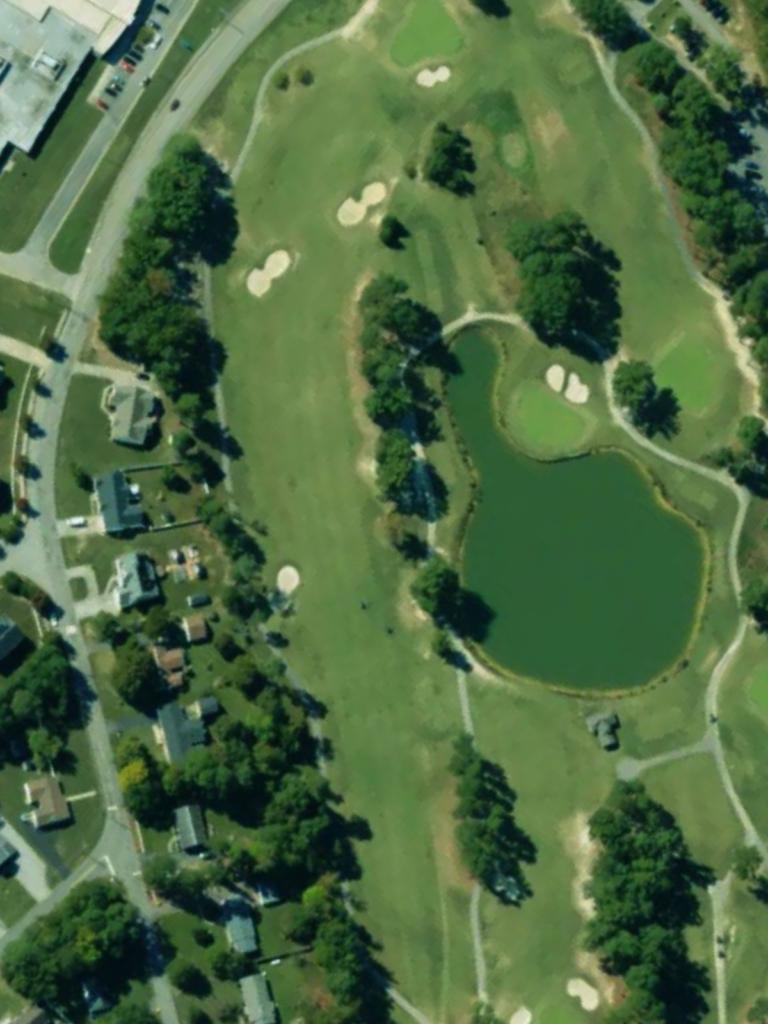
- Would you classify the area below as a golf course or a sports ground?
golf course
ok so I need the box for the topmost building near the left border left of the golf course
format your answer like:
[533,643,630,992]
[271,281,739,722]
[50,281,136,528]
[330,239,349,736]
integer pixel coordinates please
[0,0,138,154]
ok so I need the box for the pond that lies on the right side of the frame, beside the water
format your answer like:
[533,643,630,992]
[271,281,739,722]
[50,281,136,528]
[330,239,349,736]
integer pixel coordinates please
[449,330,705,689]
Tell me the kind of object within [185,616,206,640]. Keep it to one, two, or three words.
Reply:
building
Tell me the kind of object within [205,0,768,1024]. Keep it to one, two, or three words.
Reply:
golf course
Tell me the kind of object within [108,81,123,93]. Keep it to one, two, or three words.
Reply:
vehicle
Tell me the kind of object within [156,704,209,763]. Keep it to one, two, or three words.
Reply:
house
